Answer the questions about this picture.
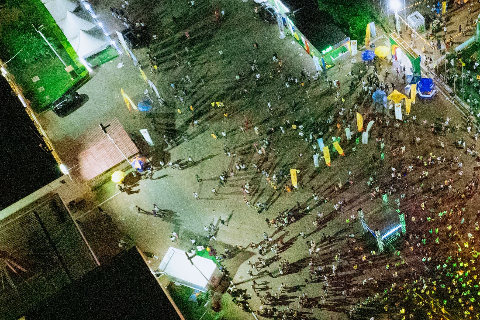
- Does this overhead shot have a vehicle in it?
Yes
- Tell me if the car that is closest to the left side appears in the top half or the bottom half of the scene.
top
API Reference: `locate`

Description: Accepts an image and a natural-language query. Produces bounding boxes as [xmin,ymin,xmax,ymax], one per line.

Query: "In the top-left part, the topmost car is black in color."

[120,25,138,50]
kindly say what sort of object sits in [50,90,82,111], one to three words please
car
